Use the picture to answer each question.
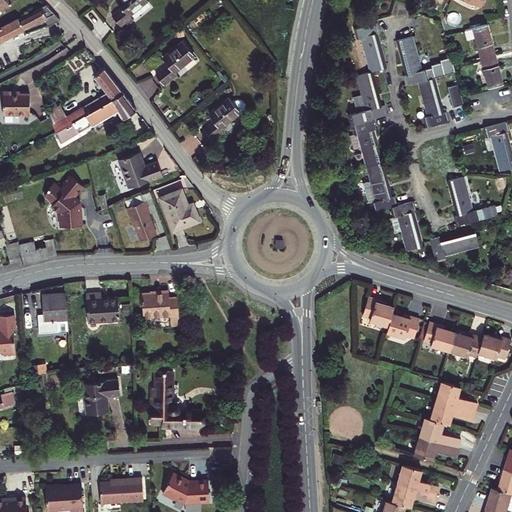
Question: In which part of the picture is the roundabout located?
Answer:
center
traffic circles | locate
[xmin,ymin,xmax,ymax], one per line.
[221,188,340,302]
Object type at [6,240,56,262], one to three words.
building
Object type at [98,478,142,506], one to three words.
house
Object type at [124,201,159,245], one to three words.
house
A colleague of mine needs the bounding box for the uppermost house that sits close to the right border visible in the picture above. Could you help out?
[466,22,494,48]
